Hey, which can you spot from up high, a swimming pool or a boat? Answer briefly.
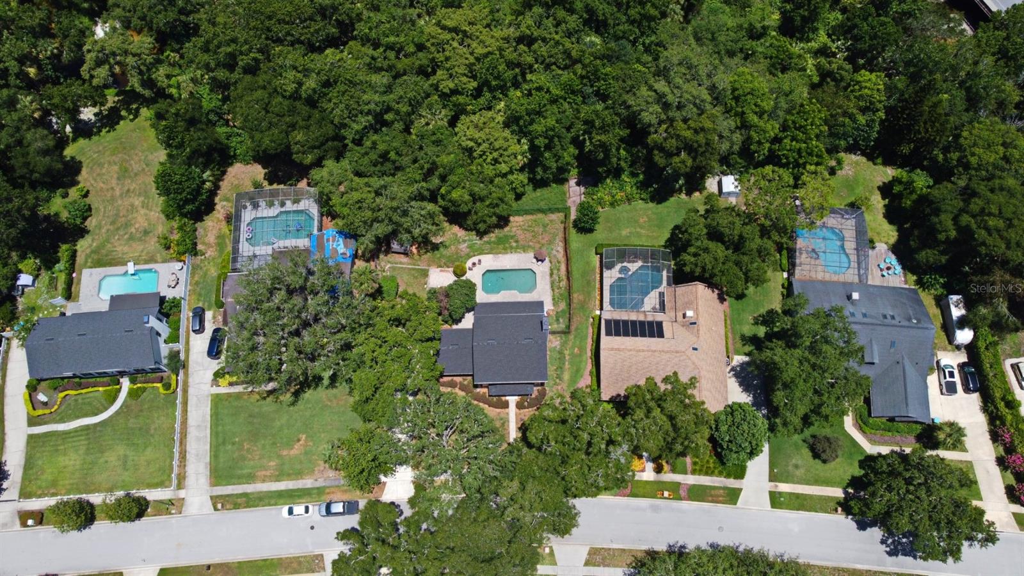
swimming pool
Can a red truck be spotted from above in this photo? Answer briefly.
No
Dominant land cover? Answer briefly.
trees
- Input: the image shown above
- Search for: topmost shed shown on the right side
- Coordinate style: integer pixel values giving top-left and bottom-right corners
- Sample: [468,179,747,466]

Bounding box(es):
[719,176,740,200]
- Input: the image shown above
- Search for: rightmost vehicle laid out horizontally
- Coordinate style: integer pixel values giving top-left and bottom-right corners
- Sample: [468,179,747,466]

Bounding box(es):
[319,499,360,517]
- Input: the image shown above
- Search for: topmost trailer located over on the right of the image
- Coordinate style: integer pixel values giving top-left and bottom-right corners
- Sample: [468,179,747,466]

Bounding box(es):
[937,299,974,353]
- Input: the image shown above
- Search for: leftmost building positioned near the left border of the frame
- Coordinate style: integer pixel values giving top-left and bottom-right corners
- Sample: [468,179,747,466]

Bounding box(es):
[26,294,173,381]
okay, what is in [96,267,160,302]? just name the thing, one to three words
swimming pool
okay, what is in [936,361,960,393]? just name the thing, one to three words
truck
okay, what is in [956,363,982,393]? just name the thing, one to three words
car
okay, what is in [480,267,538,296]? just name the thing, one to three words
swimming pool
